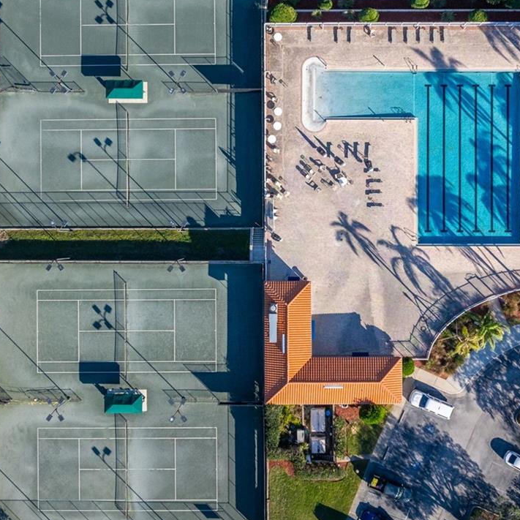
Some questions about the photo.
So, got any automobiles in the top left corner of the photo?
No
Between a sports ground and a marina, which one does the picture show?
sports ground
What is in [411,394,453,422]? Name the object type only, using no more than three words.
car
